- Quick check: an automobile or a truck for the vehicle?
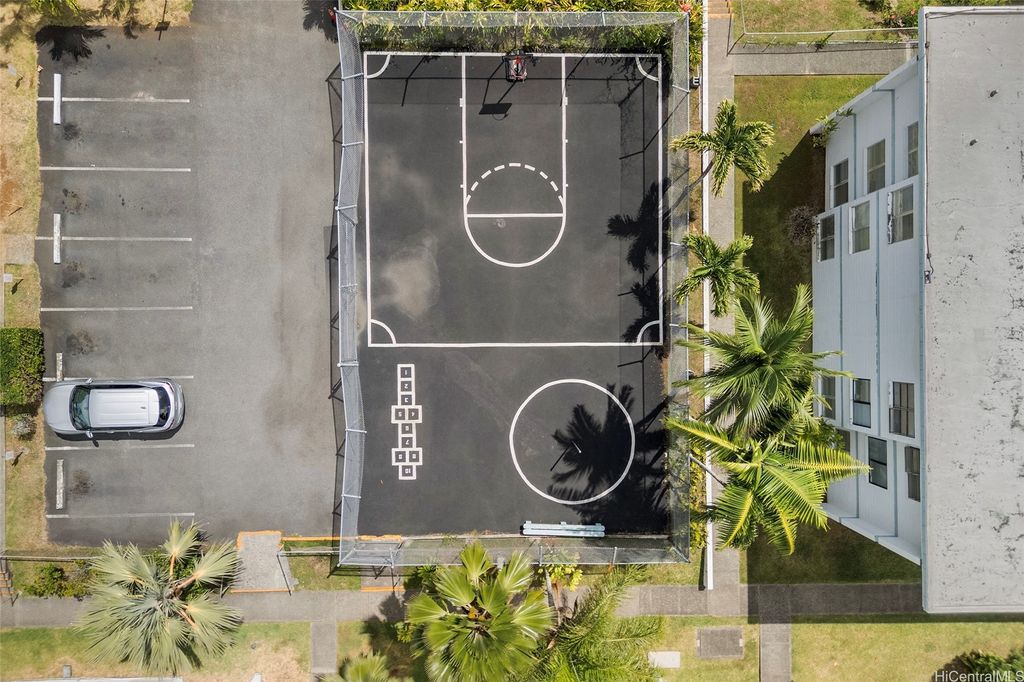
automobile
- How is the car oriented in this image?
horizontally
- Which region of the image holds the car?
left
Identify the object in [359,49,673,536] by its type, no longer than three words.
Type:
basketball court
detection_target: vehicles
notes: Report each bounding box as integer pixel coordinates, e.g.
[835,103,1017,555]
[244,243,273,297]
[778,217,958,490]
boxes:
[43,375,183,439]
